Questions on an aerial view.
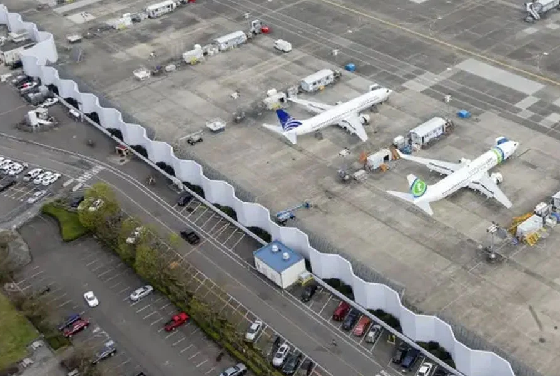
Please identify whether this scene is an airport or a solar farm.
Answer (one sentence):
This image shows an airport.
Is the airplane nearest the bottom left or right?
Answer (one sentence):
The airplane nearest the bottom appears in the right half of the scene.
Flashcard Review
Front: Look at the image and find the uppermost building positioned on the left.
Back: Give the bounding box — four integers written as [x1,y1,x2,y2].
[143,0,176,21]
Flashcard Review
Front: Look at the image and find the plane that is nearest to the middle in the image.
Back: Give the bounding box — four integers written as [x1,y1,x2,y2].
[276,88,391,146]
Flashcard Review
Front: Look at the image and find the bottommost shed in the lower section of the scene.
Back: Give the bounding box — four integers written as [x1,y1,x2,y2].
[252,237,306,289]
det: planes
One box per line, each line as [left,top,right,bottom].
[276,88,391,146]
[400,141,518,214]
